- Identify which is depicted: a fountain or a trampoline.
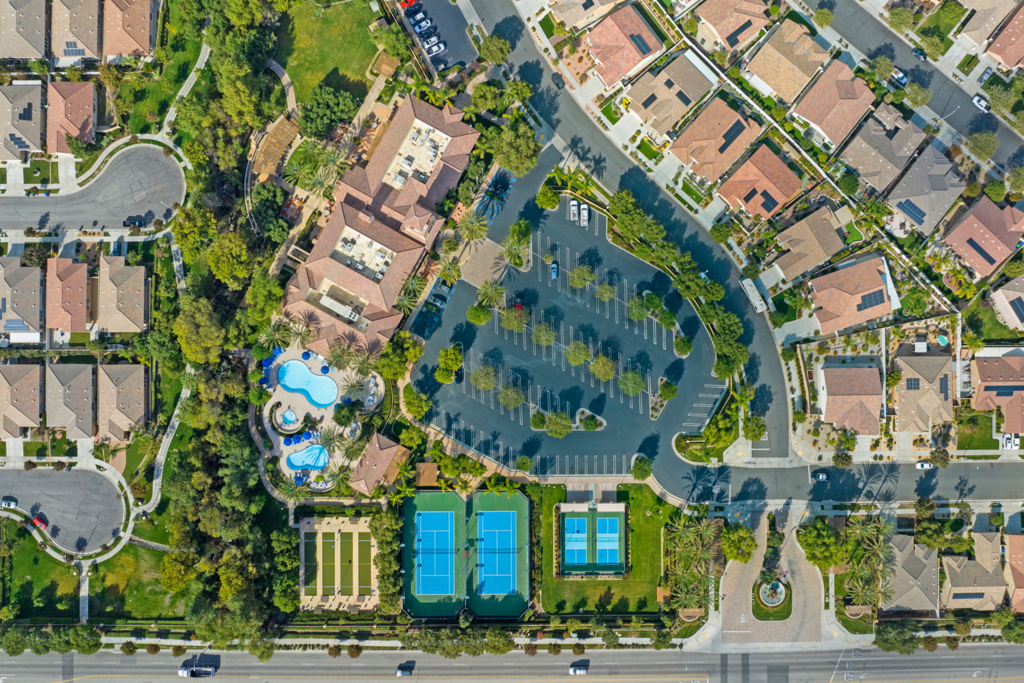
fountain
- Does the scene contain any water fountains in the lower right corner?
Yes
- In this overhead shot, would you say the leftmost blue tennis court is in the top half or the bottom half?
bottom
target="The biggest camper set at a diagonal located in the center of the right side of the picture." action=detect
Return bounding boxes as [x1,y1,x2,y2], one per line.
[738,277,770,314]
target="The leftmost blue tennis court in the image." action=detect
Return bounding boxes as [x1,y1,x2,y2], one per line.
[403,494,466,619]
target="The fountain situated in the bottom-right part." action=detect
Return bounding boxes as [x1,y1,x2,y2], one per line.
[759,581,786,607]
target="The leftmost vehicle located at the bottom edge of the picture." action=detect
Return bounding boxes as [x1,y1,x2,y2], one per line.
[180,665,218,679]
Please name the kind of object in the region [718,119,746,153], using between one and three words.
solar panel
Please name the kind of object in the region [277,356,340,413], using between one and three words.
swimming pool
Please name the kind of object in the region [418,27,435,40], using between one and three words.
vehicle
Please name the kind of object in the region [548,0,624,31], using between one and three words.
house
